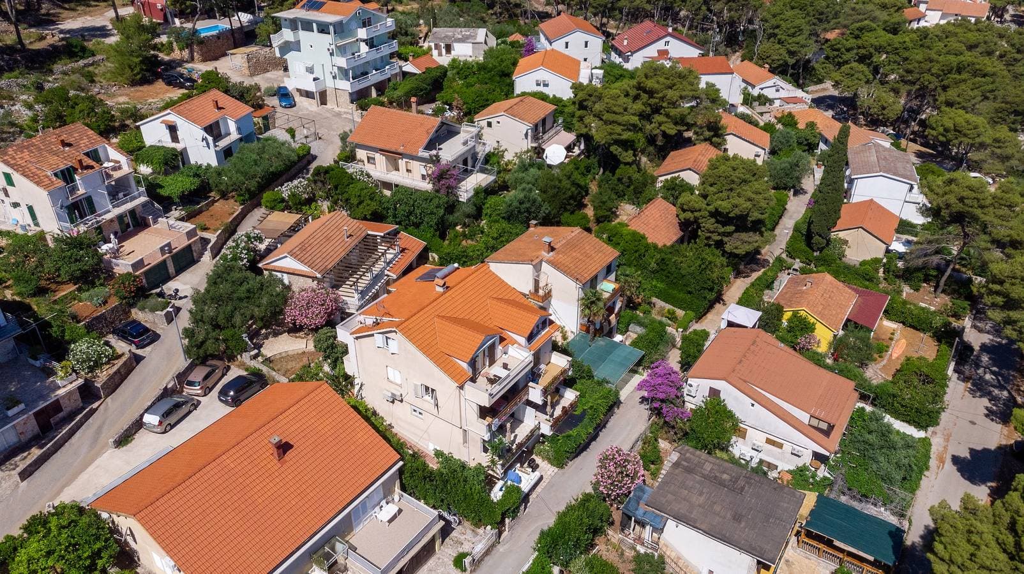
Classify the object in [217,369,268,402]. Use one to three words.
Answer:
car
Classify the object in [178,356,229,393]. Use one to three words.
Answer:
car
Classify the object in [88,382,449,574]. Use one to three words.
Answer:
house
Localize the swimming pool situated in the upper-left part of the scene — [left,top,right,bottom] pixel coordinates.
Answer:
[180,18,255,43]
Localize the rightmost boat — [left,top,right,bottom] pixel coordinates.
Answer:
[892,339,908,360]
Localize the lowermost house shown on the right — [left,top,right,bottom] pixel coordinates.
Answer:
[620,442,806,574]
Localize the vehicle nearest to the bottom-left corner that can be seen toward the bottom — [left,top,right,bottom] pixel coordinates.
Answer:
[139,391,199,429]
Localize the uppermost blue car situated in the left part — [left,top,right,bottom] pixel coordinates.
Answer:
[275,81,293,102]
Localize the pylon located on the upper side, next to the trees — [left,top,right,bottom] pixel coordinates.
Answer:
[706,5,722,56]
